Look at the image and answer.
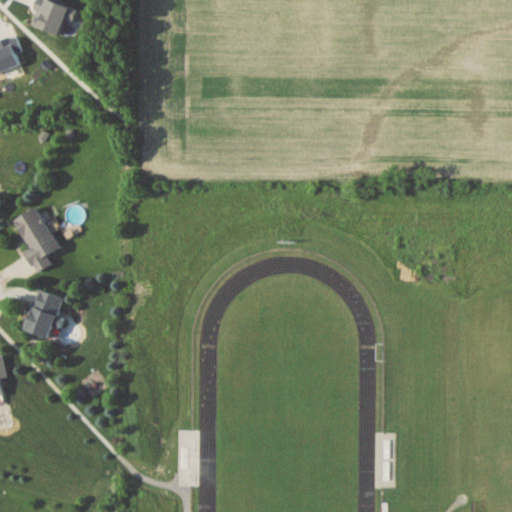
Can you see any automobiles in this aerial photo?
No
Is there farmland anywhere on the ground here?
Yes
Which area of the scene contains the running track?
bottom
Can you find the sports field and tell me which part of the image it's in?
bottom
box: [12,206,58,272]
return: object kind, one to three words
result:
house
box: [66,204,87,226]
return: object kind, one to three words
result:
swimming pool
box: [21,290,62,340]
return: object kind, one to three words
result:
house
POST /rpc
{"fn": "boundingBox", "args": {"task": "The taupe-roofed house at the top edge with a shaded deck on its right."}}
[31,0,66,35]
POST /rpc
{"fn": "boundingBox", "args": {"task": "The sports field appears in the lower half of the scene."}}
[216,274,360,512]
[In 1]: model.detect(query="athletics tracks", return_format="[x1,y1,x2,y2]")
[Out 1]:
[200,258,376,512]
